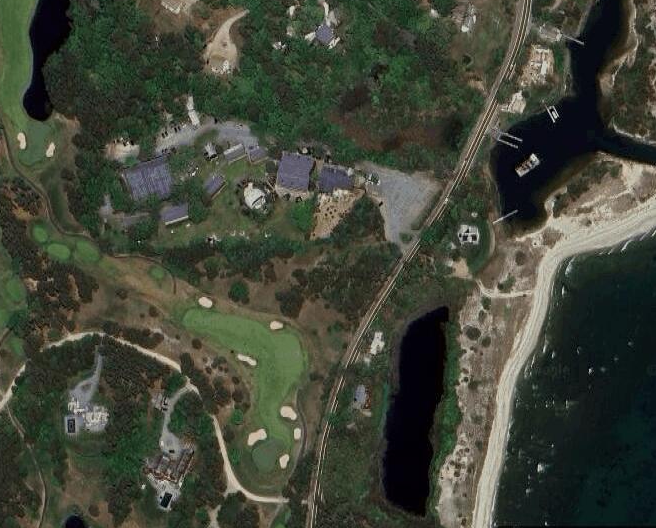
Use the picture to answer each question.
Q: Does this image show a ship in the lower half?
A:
No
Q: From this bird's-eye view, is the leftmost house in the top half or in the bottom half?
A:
bottom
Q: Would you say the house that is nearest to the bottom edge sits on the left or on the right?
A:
left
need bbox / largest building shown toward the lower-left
[142,449,198,511]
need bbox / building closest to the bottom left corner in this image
[65,397,109,433]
